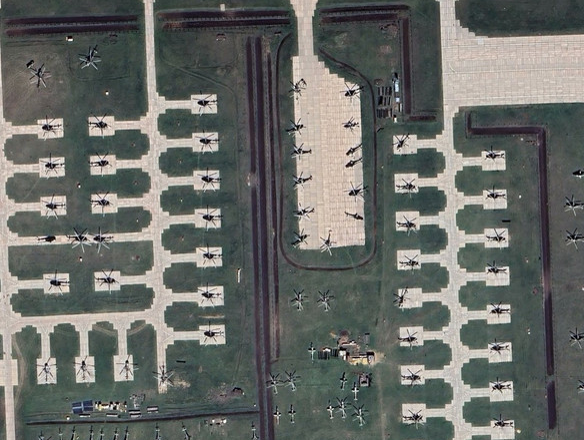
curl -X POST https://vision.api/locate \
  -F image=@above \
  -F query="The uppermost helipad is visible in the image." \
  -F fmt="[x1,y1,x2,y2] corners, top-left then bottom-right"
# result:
[191,94,216,113]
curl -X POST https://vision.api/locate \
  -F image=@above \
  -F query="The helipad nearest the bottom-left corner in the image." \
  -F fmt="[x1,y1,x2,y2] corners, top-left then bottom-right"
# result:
[36,358,56,384]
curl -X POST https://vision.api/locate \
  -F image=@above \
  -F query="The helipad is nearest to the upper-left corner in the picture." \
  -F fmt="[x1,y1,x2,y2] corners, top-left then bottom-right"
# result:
[37,118,63,137]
